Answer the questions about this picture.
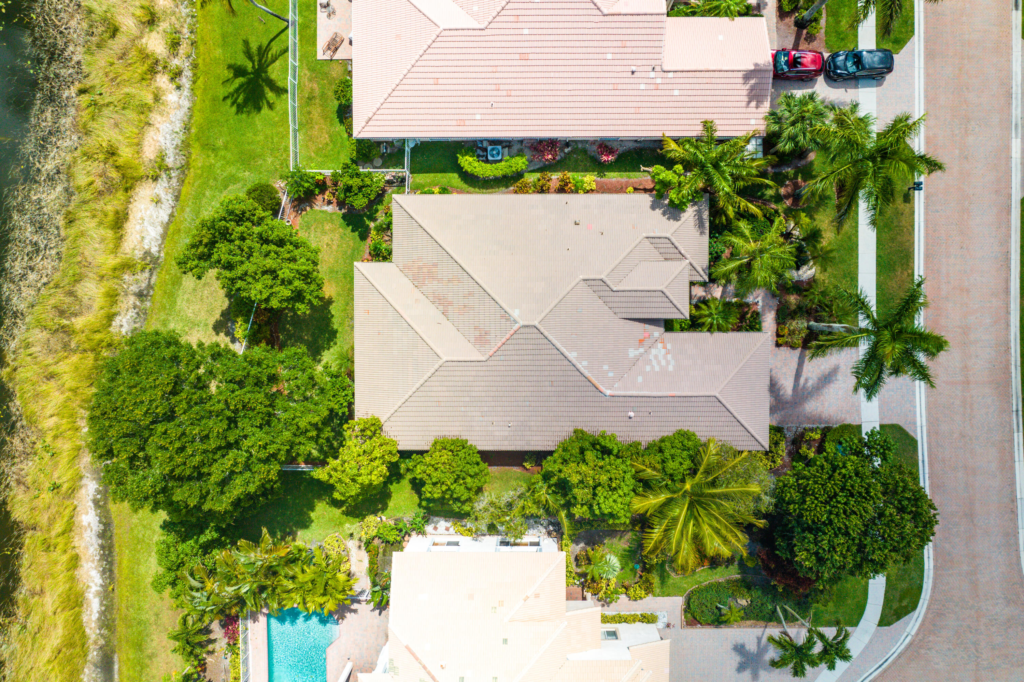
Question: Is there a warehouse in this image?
No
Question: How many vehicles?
two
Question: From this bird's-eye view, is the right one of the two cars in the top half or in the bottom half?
top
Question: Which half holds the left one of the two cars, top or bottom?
top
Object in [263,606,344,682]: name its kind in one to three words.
swimming pool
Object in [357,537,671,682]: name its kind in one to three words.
house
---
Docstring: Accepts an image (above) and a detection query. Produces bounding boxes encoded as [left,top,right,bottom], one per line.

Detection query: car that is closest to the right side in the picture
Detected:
[824,42,894,79]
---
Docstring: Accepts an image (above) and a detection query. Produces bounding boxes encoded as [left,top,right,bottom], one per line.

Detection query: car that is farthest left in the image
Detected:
[770,44,825,80]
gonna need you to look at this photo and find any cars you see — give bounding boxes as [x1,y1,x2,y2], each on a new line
[824,42,894,79]
[770,44,825,80]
